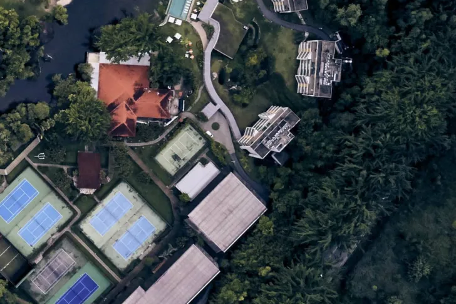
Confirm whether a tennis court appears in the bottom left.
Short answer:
Yes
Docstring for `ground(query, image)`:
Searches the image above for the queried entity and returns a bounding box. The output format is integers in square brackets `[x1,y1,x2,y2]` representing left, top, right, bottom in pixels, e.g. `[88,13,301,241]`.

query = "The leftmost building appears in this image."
[75,147,100,193]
